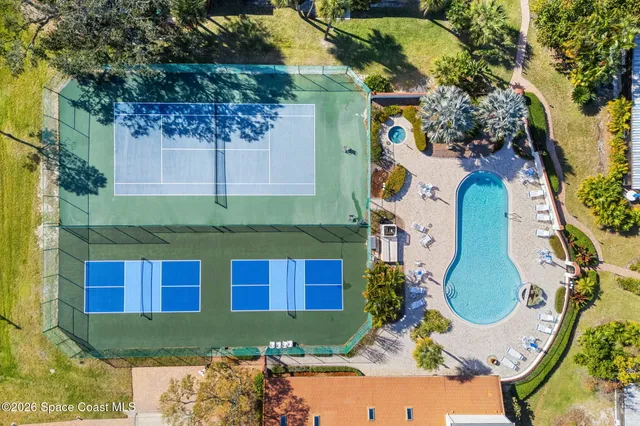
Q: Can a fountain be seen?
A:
Yes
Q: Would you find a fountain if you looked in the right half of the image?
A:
Yes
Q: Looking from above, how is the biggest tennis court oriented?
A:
from left to right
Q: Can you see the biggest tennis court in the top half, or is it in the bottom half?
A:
top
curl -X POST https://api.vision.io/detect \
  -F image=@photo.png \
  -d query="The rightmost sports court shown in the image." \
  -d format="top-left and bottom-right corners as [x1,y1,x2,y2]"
[231,259,343,312]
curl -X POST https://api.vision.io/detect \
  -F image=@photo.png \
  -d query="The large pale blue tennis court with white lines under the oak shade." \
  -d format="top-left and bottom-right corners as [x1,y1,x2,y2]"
[114,102,315,196]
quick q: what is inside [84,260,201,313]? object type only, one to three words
sports court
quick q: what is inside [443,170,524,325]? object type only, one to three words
swimming pool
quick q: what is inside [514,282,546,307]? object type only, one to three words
fountain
